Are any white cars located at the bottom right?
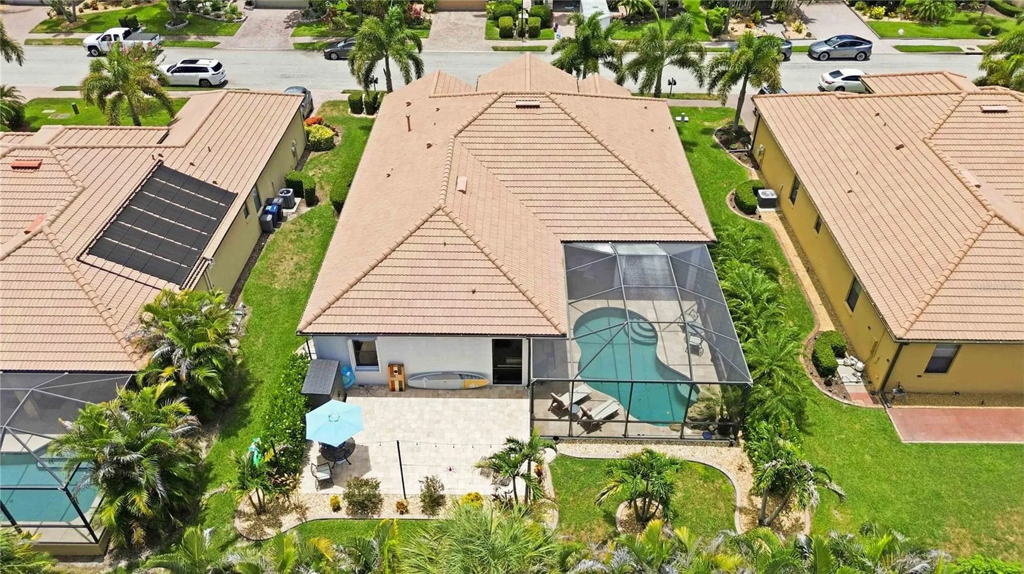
No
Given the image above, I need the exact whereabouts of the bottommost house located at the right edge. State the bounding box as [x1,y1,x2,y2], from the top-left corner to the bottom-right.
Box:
[738,72,1024,407]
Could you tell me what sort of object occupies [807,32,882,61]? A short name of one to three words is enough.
car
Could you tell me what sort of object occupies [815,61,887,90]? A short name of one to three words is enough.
car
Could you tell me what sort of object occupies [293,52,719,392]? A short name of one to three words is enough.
house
